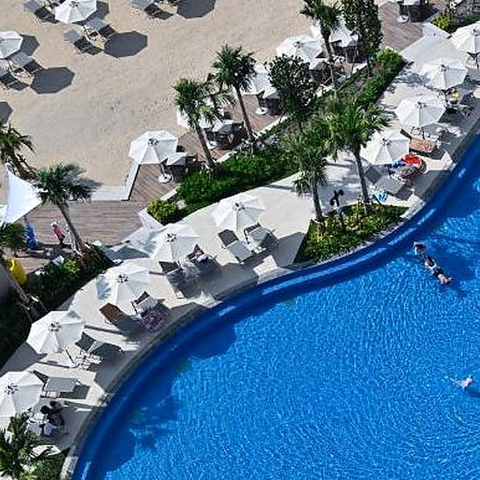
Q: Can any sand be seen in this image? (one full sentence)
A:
Yes, the picture does contain sand.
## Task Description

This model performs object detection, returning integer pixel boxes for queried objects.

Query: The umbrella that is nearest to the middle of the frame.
[213,195,266,248]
